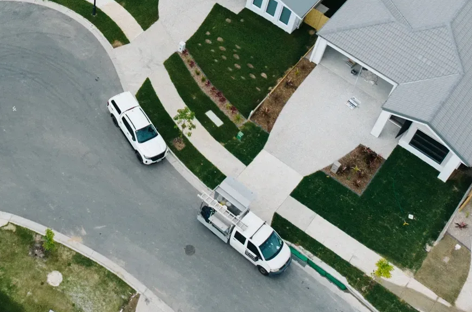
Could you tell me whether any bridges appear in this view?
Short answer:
No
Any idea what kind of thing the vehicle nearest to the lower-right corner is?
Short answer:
truck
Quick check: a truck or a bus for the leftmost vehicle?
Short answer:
truck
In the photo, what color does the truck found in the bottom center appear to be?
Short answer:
white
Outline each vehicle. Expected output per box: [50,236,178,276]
[196,183,295,284]
[110,92,165,164]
